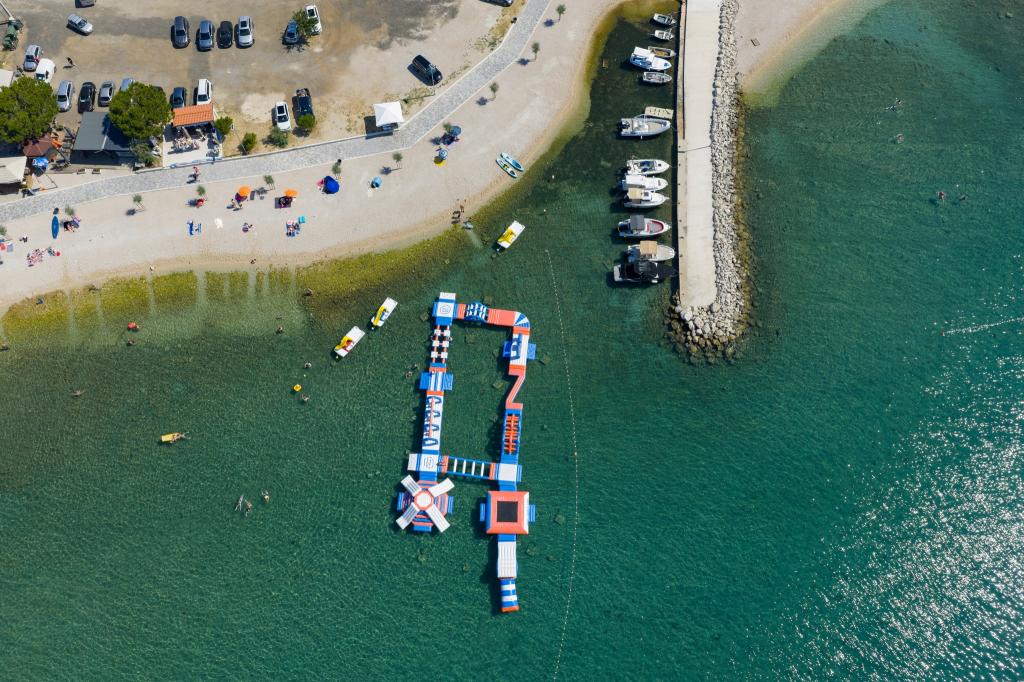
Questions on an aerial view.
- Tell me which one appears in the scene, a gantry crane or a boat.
boat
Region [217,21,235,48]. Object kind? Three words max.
car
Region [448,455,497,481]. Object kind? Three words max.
bridge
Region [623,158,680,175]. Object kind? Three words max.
boat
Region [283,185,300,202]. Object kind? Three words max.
umbrella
